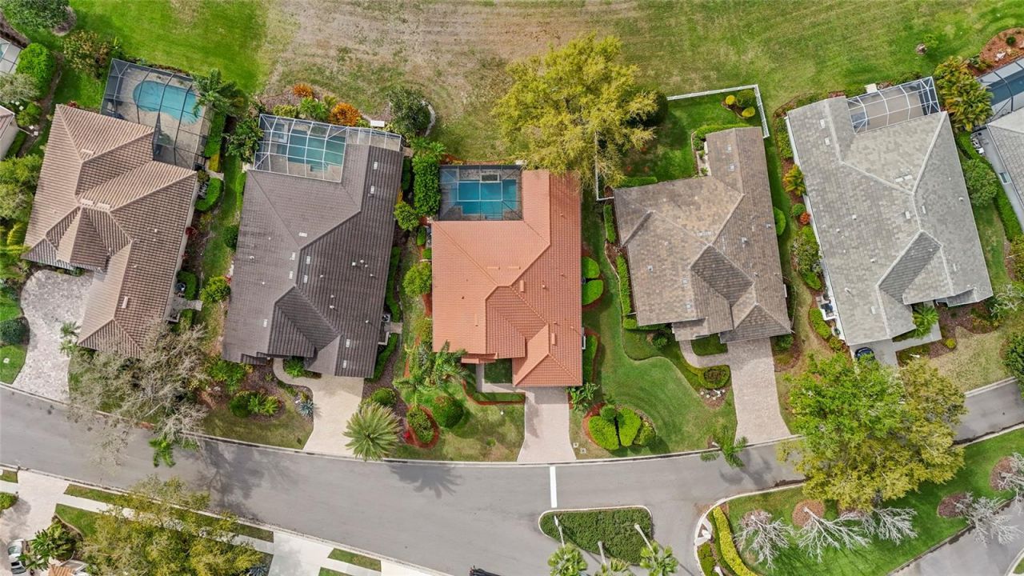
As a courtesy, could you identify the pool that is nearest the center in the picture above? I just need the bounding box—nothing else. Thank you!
[442,170,520,220]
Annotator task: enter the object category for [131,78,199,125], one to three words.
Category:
swimming pool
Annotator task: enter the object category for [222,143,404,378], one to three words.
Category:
house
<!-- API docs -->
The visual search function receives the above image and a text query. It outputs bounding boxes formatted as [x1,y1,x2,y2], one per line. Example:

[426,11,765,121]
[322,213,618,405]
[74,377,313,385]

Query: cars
[853,343,882,388]
[0,533,26,576]
[467,566,507,576]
